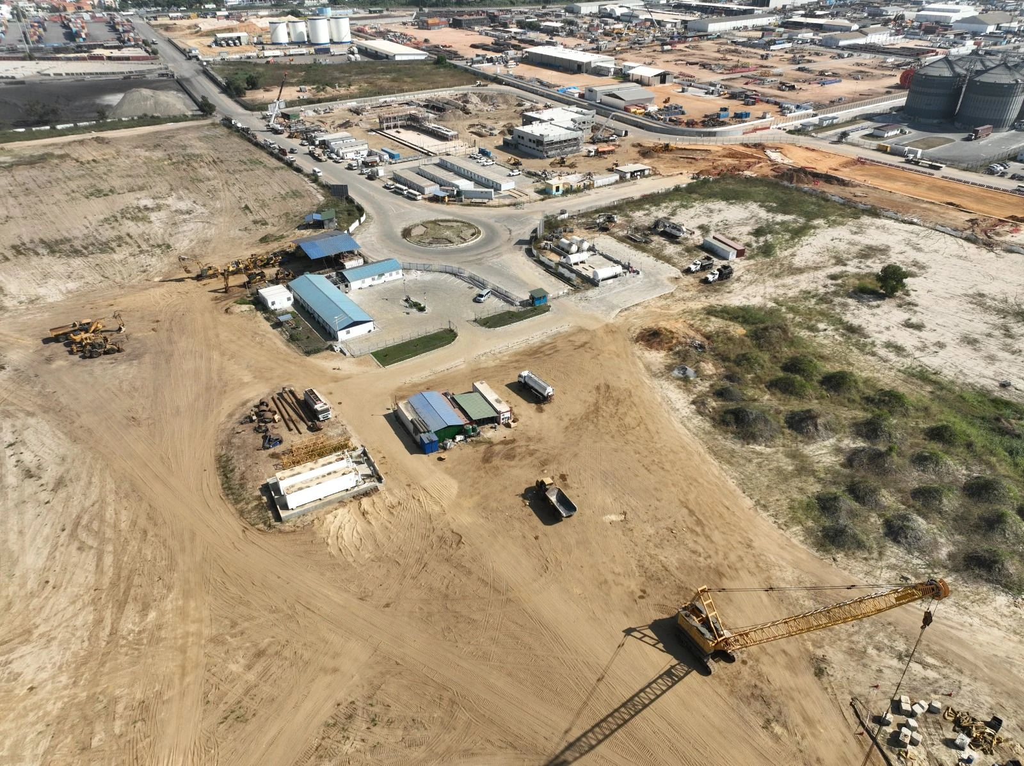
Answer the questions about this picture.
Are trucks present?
Yes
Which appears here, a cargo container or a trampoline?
cargo container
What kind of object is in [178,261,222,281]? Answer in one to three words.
work vehicle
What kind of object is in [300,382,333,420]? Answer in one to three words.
truck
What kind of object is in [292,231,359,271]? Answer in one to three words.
shed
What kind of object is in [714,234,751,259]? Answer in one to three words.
shipping container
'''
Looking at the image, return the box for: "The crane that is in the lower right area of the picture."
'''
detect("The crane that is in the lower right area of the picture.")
[669,576,957,766]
